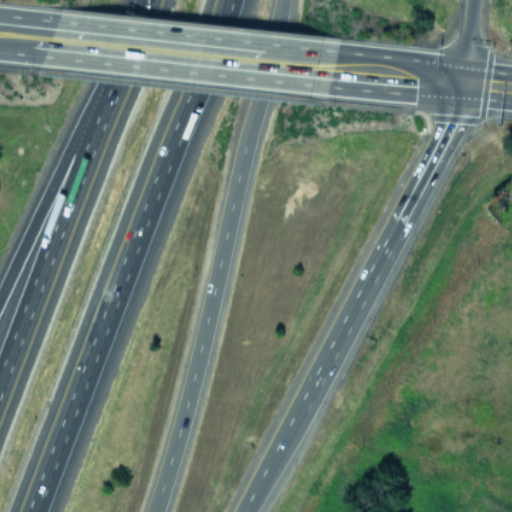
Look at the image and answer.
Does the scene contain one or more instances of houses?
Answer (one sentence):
No, there is no house in the image.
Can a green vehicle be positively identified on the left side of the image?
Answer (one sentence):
Yes, a green vehicle is visible on the left side of the image.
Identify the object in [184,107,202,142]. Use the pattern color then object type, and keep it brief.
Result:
white vehicle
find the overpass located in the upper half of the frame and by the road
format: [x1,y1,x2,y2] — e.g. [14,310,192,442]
[40,10,343,104]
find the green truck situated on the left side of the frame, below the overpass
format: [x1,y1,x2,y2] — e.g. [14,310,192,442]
[64,159,90,216]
